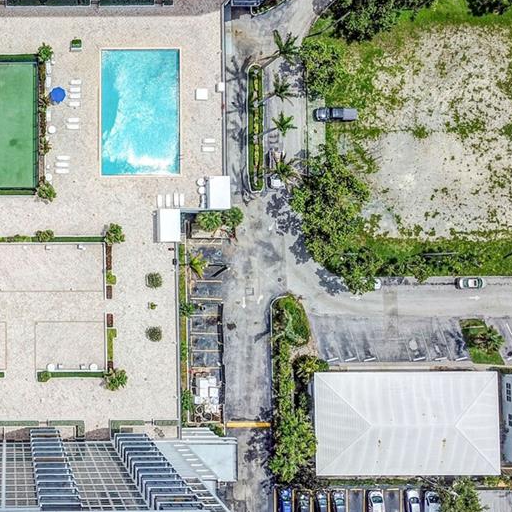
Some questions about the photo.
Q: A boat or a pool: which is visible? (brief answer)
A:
pool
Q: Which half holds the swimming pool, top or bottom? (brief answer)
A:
top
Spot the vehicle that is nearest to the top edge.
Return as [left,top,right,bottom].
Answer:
[315,106,357,122]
